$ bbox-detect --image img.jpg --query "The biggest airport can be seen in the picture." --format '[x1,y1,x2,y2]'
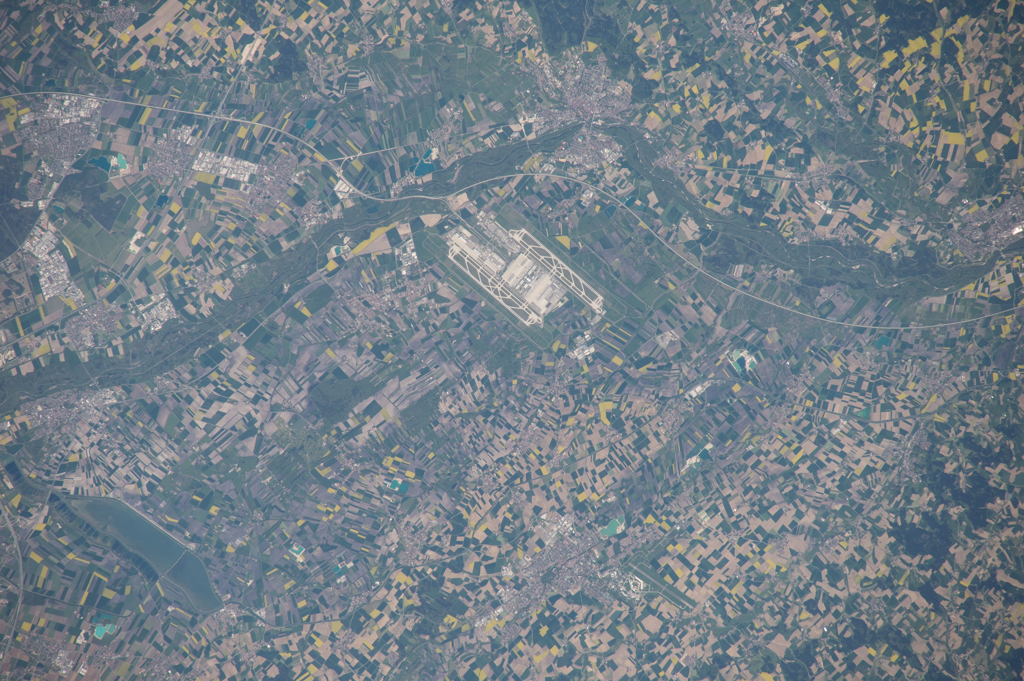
[425,211,627,342]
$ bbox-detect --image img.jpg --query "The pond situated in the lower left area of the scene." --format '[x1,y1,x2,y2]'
[70,497,220,612]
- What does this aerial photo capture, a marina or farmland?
farmland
